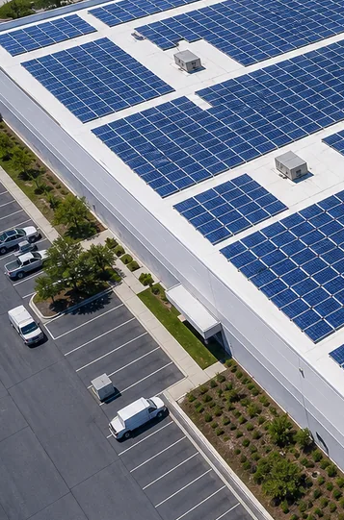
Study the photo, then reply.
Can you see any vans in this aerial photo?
Yes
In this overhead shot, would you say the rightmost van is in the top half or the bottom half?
bottom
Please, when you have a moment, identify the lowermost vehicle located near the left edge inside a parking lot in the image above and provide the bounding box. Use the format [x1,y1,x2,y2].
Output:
[0,303,41,346]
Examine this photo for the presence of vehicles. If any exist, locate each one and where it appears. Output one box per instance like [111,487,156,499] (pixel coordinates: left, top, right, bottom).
[110,393,174,438]
[0,225,39,255]
[1,248,55,280]
[0,303,41,346]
